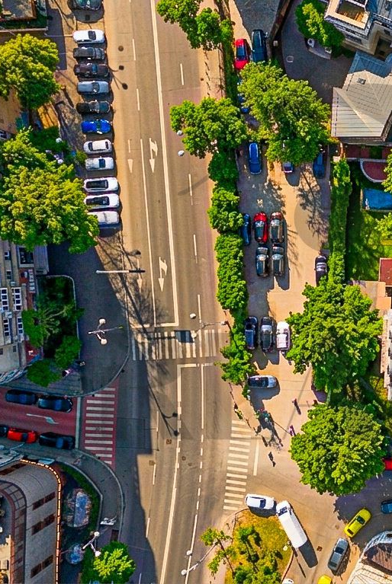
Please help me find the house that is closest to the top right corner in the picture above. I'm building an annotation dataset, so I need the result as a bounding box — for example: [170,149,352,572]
[325,0,392,59]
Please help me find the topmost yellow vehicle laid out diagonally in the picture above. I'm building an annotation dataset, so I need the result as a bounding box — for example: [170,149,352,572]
[345,508,369,537]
